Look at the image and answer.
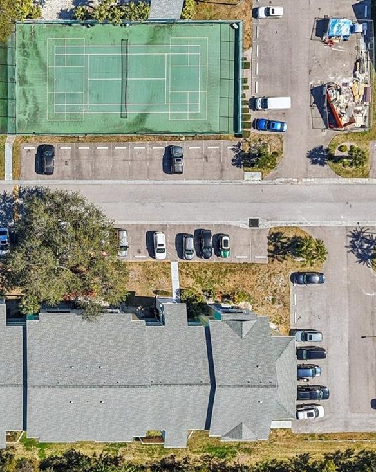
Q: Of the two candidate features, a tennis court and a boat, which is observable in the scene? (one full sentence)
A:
Of the two, only a tennis court appears.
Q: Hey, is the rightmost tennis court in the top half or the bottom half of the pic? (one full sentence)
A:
It is in the top half that the rightmost tennis court appears.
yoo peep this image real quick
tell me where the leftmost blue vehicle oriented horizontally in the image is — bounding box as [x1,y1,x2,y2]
[254,119,286,133]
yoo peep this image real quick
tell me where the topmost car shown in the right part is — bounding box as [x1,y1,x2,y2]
[256,5,284,19]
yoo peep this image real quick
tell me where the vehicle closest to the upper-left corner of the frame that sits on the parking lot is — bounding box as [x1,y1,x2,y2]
[40,145,54,174]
